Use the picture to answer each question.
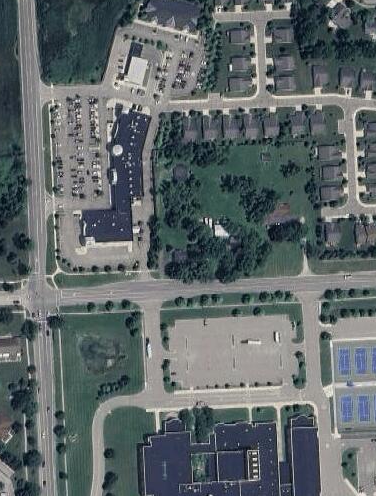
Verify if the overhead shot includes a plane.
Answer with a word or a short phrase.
No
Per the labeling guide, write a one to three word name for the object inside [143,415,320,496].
building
